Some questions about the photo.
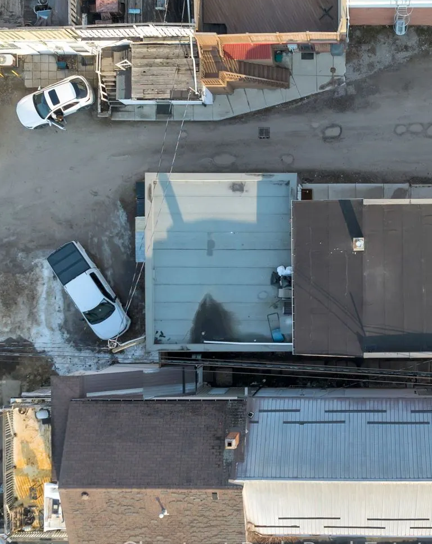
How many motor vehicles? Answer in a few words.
two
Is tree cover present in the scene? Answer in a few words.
No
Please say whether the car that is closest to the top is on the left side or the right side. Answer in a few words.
left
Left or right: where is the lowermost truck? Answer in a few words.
left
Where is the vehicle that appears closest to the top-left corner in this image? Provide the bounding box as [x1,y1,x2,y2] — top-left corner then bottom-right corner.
[15,76,101,133]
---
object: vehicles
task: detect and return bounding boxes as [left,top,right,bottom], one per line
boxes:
[47,239,130,338]
[15,76,101,133]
